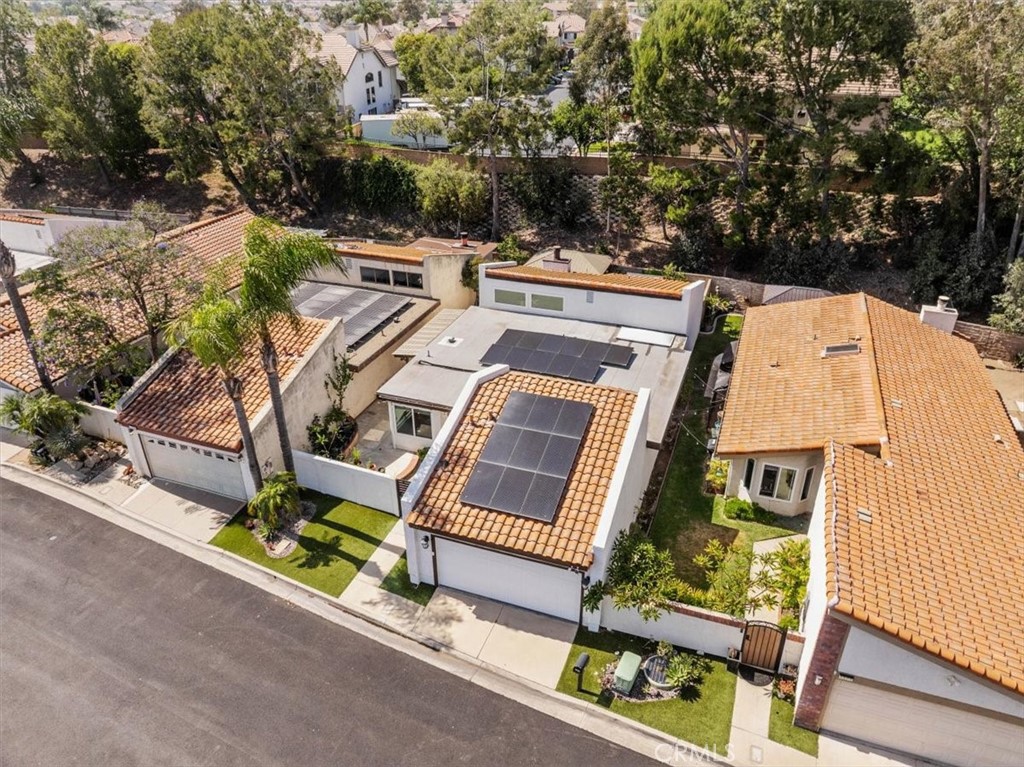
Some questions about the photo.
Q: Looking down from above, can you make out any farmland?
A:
No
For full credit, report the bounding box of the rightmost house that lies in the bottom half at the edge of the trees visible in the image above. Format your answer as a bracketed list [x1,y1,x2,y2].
[713,283,1024,767]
